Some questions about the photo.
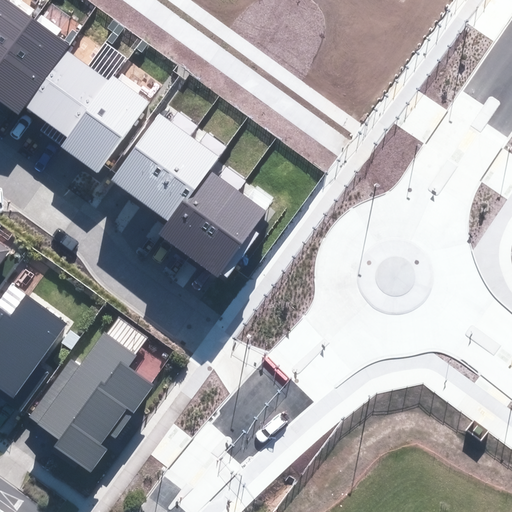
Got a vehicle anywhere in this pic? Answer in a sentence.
Yes, a vehicle can be made out from above.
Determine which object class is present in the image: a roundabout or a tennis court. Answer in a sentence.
I can see a roundabout in this picture.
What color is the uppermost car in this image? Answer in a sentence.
The uppermost car is blue.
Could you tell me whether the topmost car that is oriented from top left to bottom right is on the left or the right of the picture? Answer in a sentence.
It is on the left.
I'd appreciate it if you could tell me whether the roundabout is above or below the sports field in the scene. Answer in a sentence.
The roundabout is above the sports field.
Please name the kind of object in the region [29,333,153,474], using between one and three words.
house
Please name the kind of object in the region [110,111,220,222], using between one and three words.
house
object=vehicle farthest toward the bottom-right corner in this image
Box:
[254,410,292,446]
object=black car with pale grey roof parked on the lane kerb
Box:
[50,228,82,258]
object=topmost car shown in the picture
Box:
[6,112,32,142]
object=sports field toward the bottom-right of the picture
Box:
[321,442,512,512]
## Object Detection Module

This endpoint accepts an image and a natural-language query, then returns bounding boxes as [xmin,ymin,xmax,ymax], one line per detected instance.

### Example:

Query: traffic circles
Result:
[358,239,433,315]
